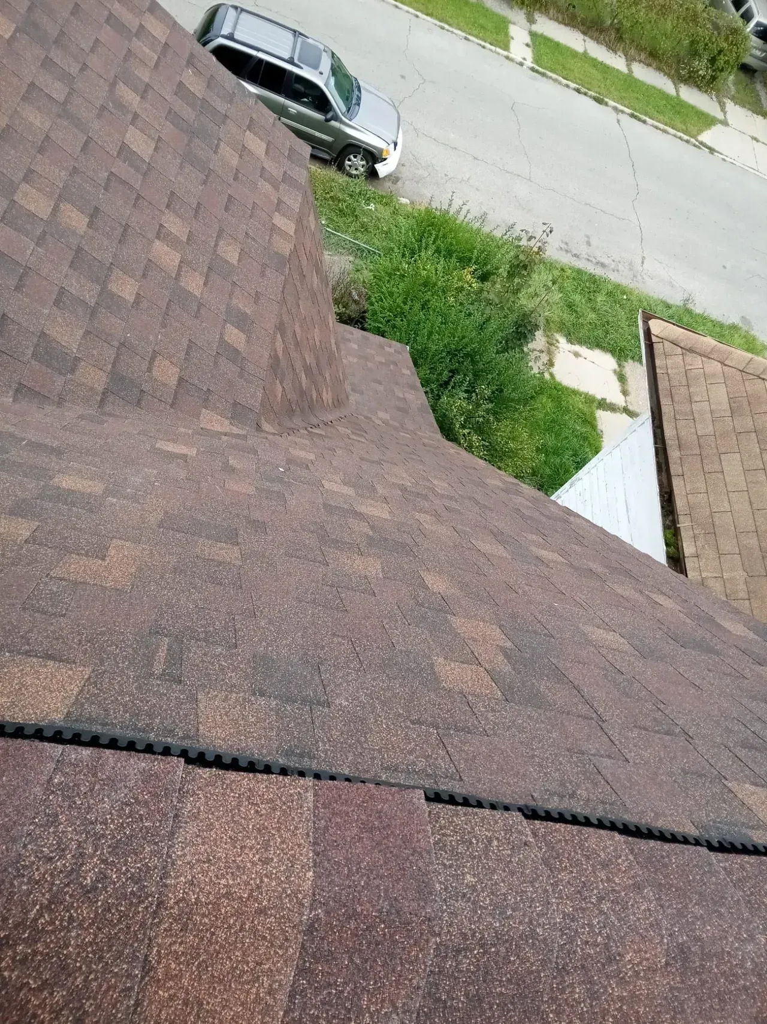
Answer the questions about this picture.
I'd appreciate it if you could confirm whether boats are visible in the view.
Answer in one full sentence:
No, this view has no boat in it.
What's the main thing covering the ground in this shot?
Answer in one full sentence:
Most of the picture is covered by buildings.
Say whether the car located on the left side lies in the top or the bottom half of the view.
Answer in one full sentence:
The top half of the photo is where the car located on the left side is.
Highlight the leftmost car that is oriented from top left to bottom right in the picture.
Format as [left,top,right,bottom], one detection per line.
[192,0,402,176]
